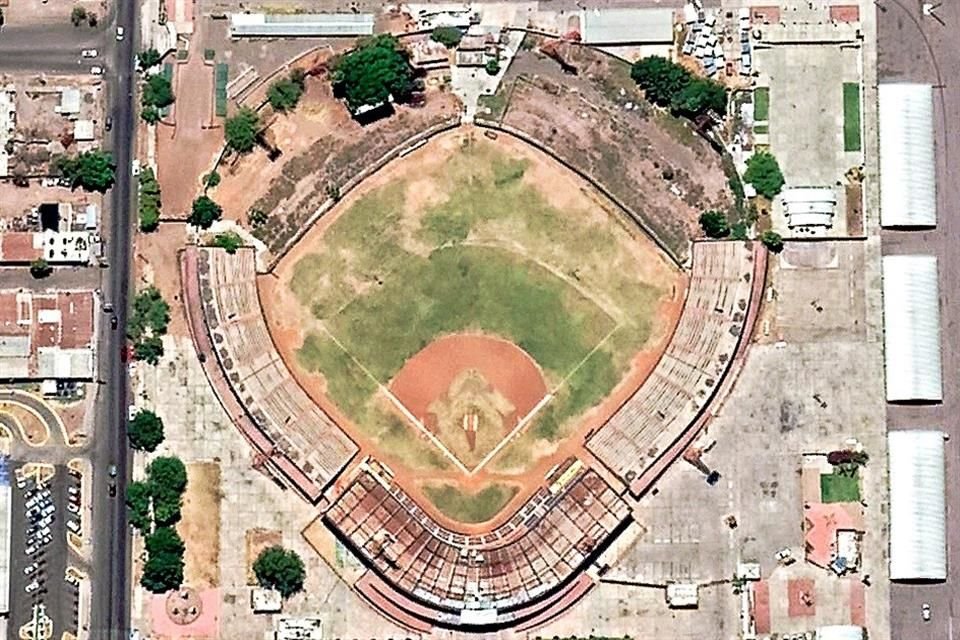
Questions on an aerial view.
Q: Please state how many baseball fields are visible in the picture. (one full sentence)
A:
The picture shows just 1 baseball field.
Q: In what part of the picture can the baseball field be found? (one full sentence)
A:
The baseball field appears toward the center of the photo.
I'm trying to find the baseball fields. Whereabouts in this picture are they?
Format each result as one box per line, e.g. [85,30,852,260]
[259,123,688,535]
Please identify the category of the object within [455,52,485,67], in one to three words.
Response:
building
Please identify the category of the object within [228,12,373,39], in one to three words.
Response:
shed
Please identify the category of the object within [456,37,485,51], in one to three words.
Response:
building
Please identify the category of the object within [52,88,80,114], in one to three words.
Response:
house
